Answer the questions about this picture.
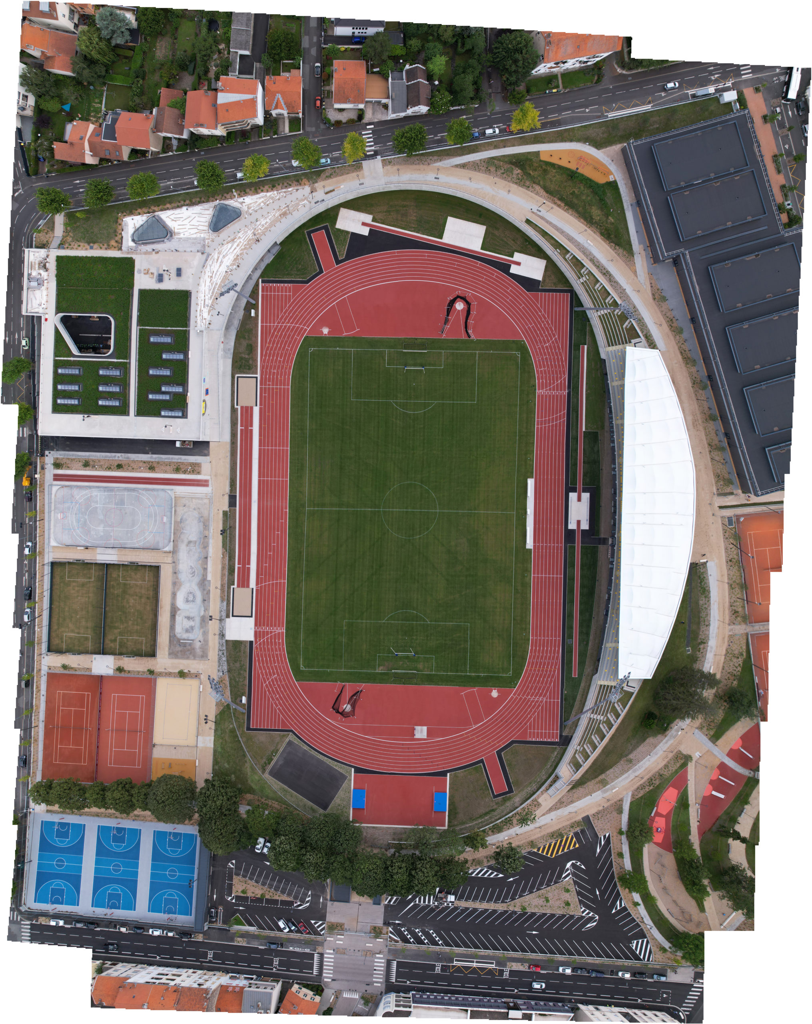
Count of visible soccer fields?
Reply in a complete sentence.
In total, 3 soccer fields can be seen.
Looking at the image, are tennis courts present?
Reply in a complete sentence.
Yes, the frame does contain a tennis court.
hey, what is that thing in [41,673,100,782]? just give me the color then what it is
red tennis court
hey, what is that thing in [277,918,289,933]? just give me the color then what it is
white vehicle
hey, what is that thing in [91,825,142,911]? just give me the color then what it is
blue basketball court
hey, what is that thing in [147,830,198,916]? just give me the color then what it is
blue basketball court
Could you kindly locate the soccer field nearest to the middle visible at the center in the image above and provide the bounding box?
[284,335,535,686]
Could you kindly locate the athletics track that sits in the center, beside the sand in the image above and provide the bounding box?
[246,224,603,799]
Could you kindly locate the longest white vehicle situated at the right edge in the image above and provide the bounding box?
[783,65,800,107]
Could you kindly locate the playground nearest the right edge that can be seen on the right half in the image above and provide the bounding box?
[698,718,762,841]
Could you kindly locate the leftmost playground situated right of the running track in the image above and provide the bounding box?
[648,766,689,854]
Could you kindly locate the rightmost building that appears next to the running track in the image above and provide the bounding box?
[621,108,803,497]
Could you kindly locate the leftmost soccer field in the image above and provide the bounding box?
[47,561,106,655]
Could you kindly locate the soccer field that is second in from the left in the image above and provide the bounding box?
[102,563,161,658]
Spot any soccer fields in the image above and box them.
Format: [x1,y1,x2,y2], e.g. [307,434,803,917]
[284,335,535,686]
[47,561,106,655]
[102,563,161,658]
